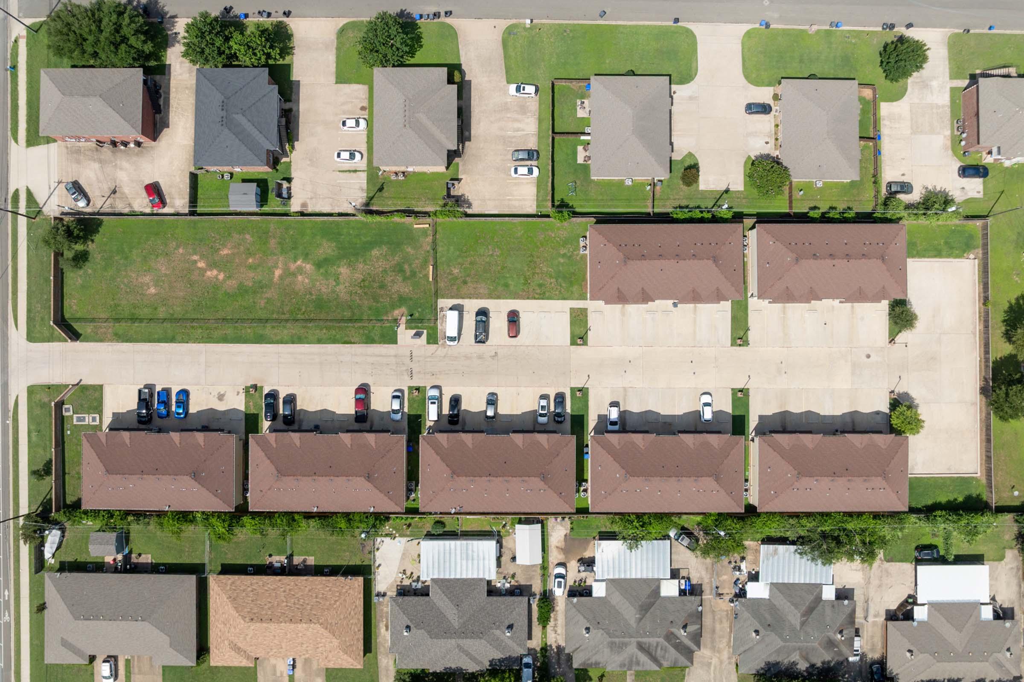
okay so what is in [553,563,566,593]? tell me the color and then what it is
white vehicle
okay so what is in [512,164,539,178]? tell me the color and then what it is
white car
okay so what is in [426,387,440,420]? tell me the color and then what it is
white vehicle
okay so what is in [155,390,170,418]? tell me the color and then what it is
blue vehicle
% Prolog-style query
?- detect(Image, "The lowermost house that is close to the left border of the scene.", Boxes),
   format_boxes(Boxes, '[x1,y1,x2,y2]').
[44,570,201,666]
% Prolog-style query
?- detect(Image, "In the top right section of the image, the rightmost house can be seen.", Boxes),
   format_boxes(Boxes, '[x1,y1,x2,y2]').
[951,70,1024,169]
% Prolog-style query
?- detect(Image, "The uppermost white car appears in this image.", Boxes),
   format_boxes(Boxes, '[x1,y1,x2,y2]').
[510,82,537,97]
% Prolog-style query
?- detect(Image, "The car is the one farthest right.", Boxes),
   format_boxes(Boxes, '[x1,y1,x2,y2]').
[956,164,987,178]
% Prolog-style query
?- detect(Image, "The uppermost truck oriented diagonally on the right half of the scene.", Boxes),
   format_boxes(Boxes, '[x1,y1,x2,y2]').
[668,524,695,554]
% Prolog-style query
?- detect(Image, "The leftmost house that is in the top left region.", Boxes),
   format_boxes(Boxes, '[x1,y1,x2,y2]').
[40,67,167,142]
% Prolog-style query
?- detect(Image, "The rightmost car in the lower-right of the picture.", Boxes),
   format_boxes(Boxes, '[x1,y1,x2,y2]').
[913,545,940,559]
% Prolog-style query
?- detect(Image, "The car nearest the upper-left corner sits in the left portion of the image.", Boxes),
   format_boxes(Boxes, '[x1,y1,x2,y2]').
[66,180,90,207]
